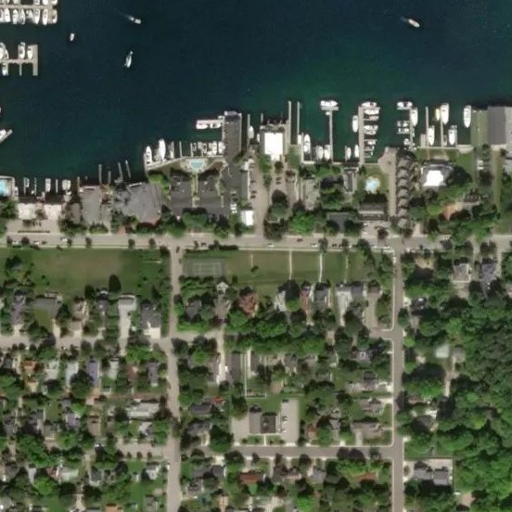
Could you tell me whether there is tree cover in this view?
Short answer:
Yes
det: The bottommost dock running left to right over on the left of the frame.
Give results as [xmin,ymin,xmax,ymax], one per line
[143,141,217,170]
